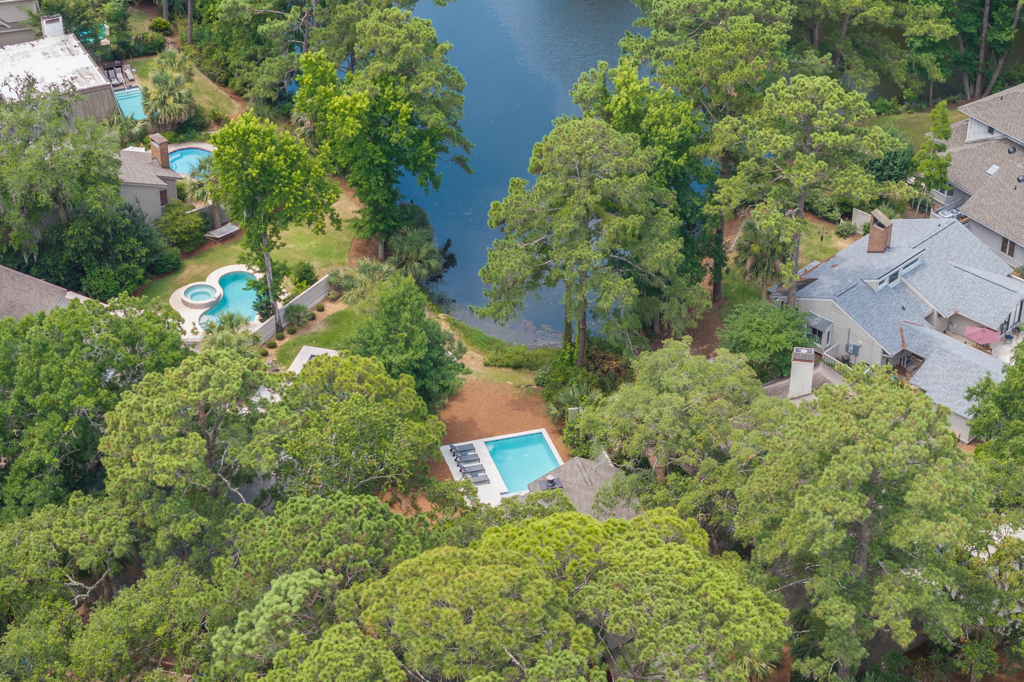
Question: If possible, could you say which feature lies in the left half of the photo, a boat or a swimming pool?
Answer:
swimming pool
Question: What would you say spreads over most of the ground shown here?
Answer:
trees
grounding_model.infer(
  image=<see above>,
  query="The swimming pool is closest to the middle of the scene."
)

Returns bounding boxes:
[484,432,560,490]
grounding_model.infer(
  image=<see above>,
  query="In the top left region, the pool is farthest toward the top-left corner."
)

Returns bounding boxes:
[115,74,155,118]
